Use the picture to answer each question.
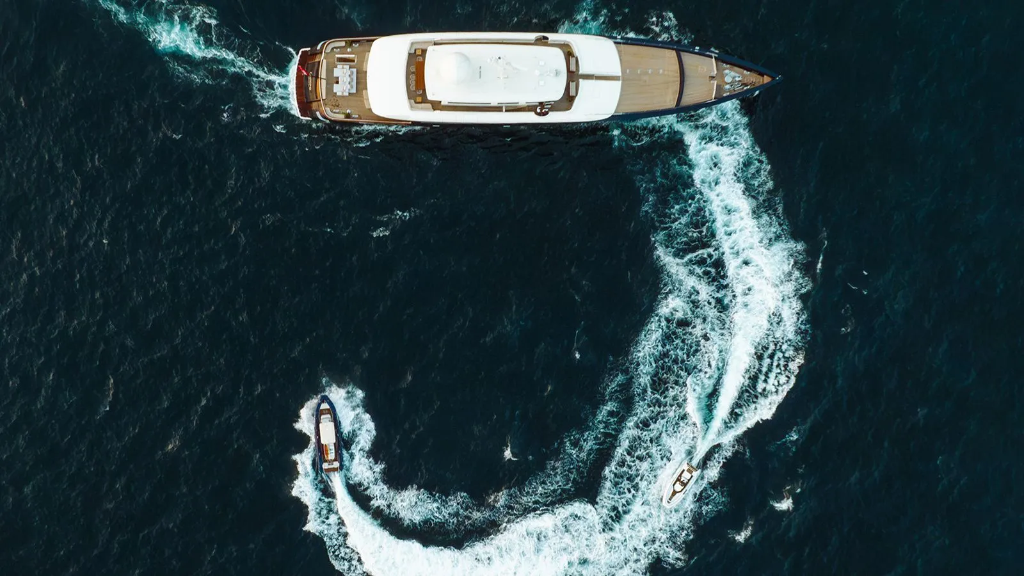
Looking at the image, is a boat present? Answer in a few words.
Yes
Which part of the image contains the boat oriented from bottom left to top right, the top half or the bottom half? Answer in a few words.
bottom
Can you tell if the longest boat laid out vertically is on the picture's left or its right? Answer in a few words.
left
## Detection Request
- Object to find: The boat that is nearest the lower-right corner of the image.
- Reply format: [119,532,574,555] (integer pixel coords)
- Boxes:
[663,460,701,508]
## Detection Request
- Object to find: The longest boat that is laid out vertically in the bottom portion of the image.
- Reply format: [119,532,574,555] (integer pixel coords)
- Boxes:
[315,394,344,474]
